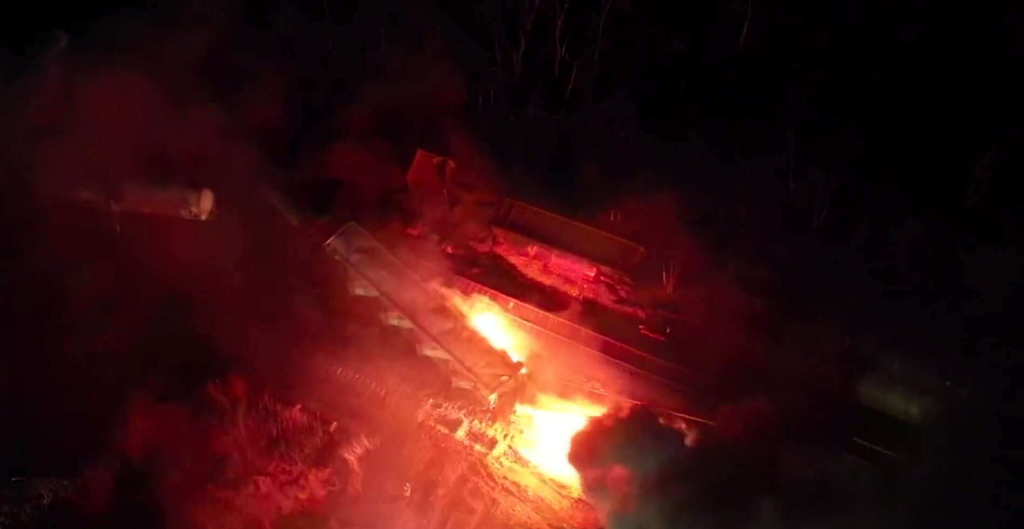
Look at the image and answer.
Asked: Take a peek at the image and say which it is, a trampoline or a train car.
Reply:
train car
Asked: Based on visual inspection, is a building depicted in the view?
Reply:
No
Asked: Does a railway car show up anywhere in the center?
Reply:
Yes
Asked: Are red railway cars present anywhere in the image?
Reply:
Yes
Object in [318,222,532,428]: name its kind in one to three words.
rail car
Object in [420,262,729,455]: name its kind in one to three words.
rail car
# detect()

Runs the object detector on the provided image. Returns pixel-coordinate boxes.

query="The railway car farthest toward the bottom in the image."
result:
[828,360,991,485]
